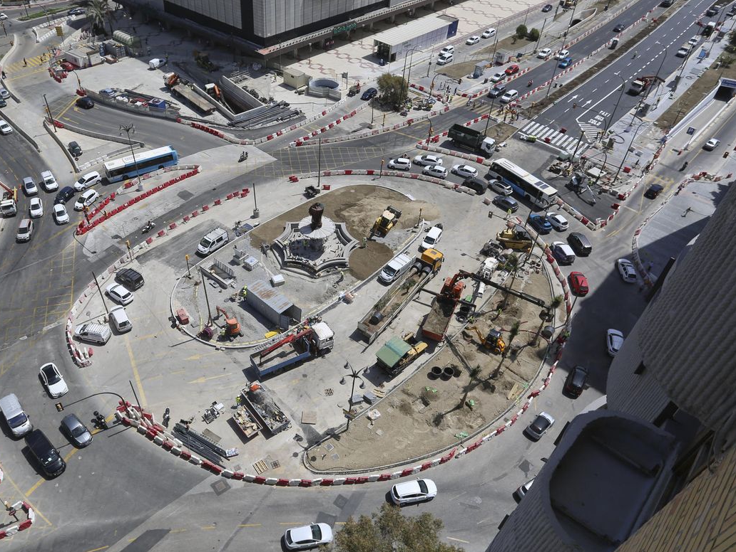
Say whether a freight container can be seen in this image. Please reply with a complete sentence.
Yes, there's a freight container here.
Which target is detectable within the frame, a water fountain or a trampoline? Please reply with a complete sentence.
I can see a water fountain in this picture.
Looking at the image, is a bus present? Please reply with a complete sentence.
Yes, you can see a bus in this photo.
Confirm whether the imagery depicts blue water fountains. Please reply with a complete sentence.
No, I can see no blue water fountain in this picture.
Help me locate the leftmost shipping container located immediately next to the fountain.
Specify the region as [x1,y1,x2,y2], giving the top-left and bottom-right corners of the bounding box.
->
[247,285,307,345]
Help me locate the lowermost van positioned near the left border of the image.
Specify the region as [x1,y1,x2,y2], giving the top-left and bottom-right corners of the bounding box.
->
[24,432,65,479]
